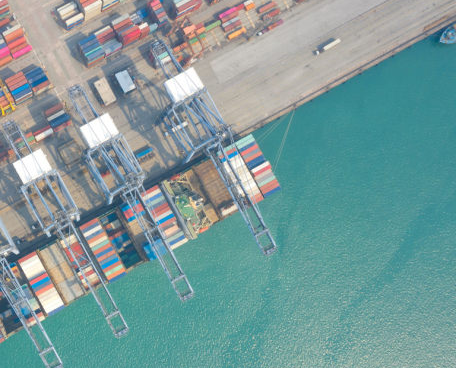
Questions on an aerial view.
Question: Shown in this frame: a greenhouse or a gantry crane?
gantry crane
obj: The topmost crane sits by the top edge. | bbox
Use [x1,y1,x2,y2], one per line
[169,8,206,62]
